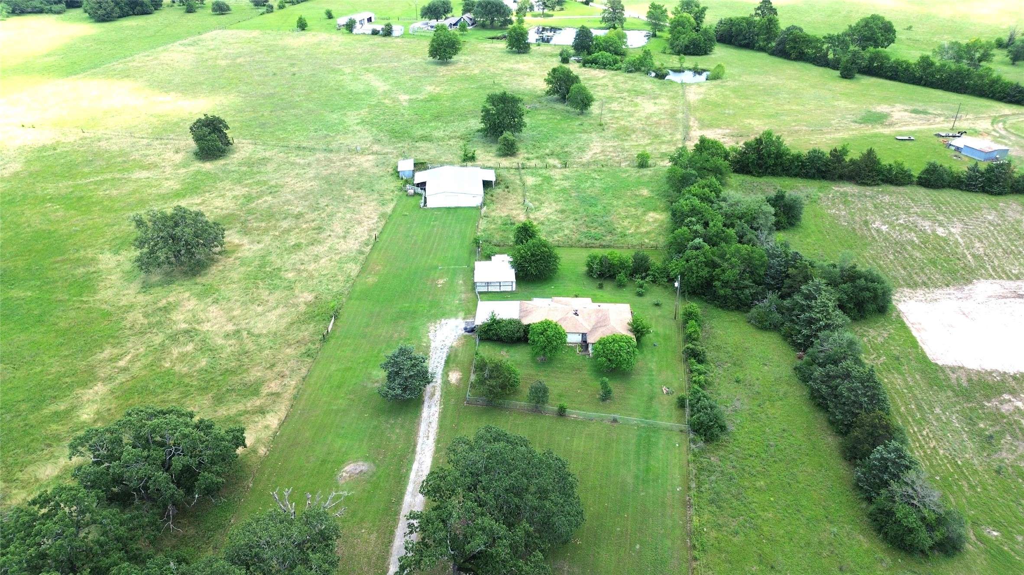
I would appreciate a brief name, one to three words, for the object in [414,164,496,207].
barn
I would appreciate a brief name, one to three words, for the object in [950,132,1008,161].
building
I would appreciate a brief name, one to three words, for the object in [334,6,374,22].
barn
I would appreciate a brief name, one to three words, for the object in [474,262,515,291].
shed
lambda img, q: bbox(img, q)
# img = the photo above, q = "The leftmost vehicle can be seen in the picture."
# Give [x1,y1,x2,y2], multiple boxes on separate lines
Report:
[464,321,476,333]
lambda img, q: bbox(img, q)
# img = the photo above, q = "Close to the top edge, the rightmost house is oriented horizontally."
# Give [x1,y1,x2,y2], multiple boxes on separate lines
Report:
[426,5,477,28]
